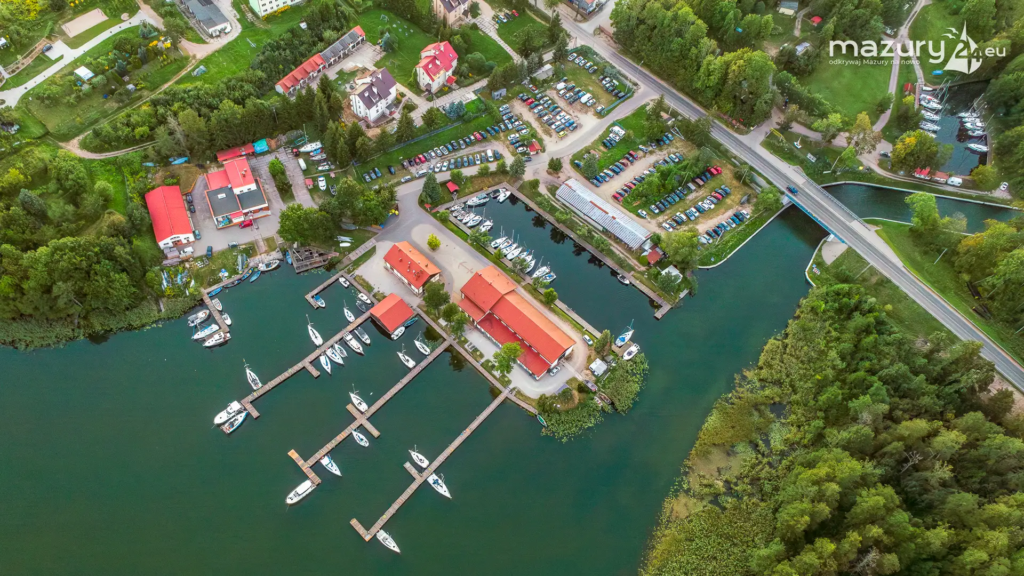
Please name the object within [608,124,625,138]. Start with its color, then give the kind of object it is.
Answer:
white camper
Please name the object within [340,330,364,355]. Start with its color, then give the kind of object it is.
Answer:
white boat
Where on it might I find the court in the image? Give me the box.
[62,7,108,37]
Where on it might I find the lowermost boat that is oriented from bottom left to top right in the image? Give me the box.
[285,477,315,503]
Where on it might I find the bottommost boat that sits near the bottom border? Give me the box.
[374,529,401,554]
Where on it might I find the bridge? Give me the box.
[780,166,872,243]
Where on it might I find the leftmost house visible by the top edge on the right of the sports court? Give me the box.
[184,0,231,37]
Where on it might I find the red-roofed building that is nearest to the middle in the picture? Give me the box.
[457,266,575,380]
